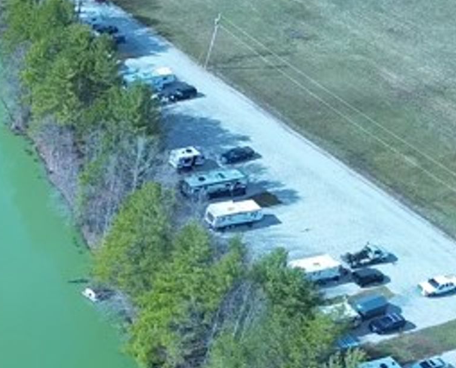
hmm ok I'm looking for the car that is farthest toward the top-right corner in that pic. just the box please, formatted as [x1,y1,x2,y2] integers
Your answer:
[222,145,255,160]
